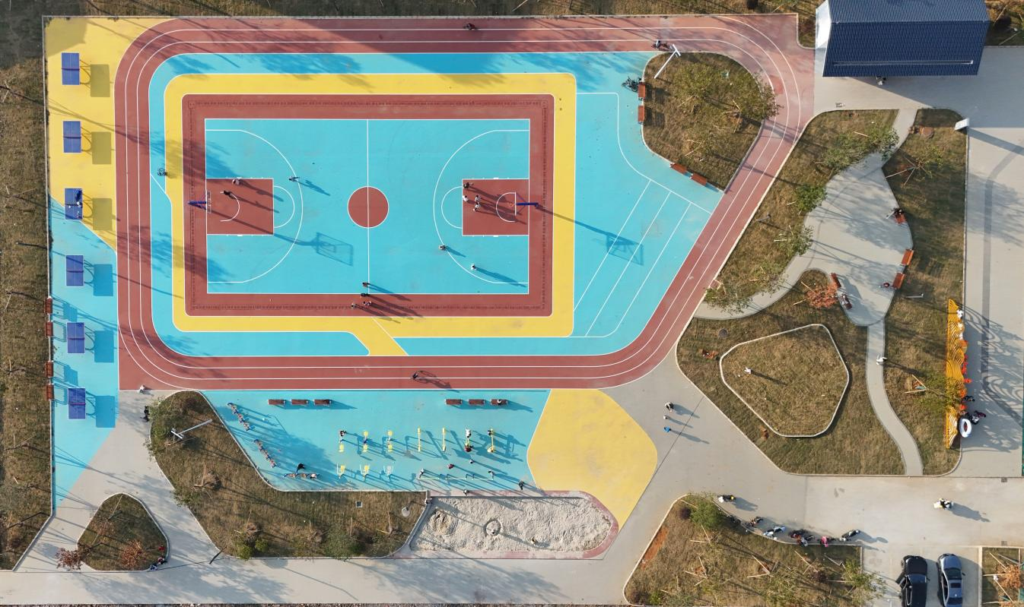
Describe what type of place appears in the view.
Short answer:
sports ground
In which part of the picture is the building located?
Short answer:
top right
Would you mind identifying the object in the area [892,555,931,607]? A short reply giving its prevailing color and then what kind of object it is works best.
black car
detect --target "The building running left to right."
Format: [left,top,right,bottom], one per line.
[816,0,989,76]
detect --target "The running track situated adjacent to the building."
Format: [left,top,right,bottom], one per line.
[114,14,814,392]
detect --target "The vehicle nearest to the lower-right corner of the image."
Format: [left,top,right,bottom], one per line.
[934,554,966,607]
